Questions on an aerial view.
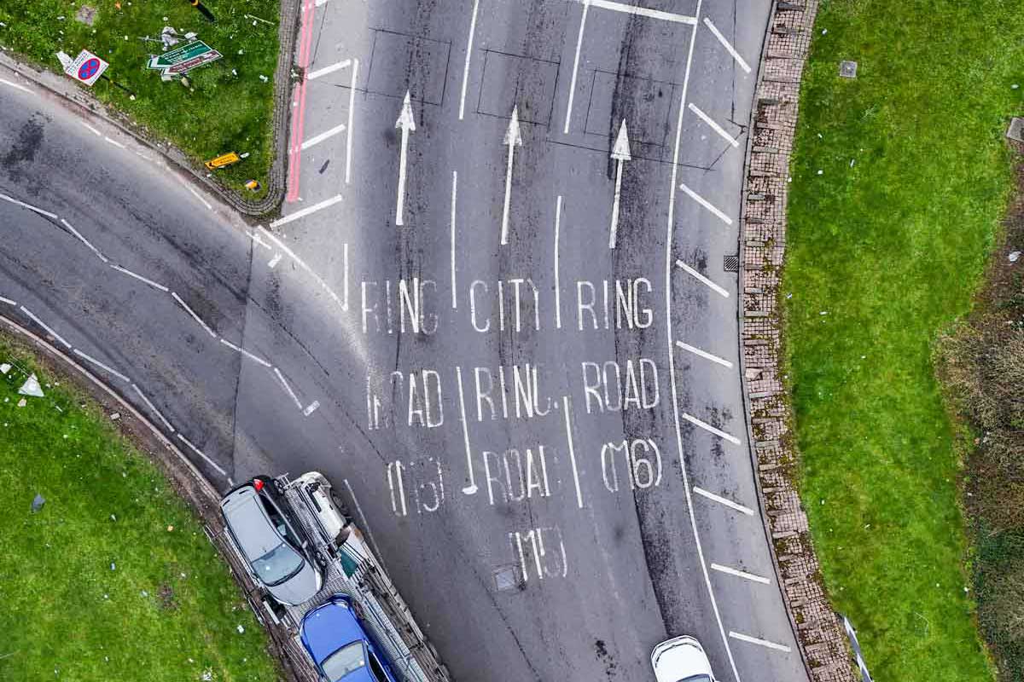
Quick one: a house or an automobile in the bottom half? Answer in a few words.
automobile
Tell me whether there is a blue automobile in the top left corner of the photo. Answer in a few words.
No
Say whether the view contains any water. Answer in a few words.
No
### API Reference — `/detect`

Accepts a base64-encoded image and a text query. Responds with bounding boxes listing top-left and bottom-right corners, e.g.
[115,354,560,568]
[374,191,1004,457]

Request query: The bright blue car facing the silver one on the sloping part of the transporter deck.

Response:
[301,599,407,682]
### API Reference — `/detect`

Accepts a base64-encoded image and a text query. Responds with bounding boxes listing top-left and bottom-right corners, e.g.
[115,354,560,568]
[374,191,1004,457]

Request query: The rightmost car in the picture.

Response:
[653,635,717,682]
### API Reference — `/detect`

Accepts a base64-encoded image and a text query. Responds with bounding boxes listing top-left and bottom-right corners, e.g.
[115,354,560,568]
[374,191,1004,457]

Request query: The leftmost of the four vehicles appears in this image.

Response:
[219,476,329,605]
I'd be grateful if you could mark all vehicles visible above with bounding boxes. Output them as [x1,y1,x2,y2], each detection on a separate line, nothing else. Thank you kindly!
[220,471,446,682]
[219,476,329,605]
[301,599,407,682]
[653,635,717,682]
